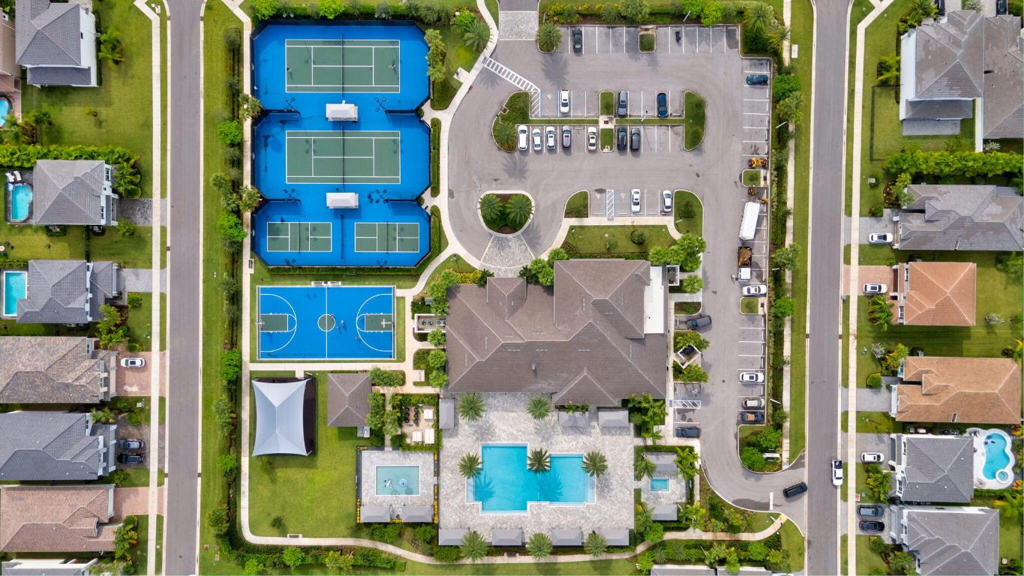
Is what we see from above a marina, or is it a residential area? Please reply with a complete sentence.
What you see here is a residential area.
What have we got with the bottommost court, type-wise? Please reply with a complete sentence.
Looking closely, the bottommost court is a basketball court.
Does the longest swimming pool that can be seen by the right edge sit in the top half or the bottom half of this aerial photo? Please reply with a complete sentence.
The longest swimming pool that can be seen by the right edge is in the bottom half of the image.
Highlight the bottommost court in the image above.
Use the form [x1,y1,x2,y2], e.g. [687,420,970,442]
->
[257,285,396,360]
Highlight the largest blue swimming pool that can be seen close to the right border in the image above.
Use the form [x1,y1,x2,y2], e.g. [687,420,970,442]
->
[983,431,1010,481]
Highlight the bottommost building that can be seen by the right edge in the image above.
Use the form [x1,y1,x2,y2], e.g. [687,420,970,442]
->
[885,500,999,576]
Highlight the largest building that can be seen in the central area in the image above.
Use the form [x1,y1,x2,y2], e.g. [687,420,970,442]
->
[446,260,667,405]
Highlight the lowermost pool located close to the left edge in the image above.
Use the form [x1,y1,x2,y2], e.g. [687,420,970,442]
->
[2,271,28,316]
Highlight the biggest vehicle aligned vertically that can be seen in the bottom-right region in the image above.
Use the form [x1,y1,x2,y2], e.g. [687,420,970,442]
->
[831,457,844,486]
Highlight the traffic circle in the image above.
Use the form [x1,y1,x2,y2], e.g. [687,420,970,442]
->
[479,191,534,236]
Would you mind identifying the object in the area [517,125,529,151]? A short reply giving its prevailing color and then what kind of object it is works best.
white vehicle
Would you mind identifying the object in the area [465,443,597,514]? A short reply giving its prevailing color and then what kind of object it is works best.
blue swimming pool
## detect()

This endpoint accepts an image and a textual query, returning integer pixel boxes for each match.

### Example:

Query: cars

[532,128,542,152]
[559,90,570,116]
[741,285,767,296]
[561,125,572,149]
[657,93,668,119]
[859,452,884,462]
[741,398,765,409]
[867,233,893,244]
[858,520,885,532]
[571,28,583,53]
[862,283,887,294]
[118,452,145,464]
[587,126,598,151]
[745,74,769,85]
[120,438,146,450]
[616,125,628,151]
[994,0,1009,16]
[630,188,642,213]
[675,426,700,437]
[517,125,529,151]
[617,91,629,117]
[687,315,713,329]
[662,189,673,213]
[739,412,764,423]
[546,127,555,150]
[121,357,147,368]
[739,372,765,383]
[630,127,641,152]
[933,0,947,16]
[782,482,808,498]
